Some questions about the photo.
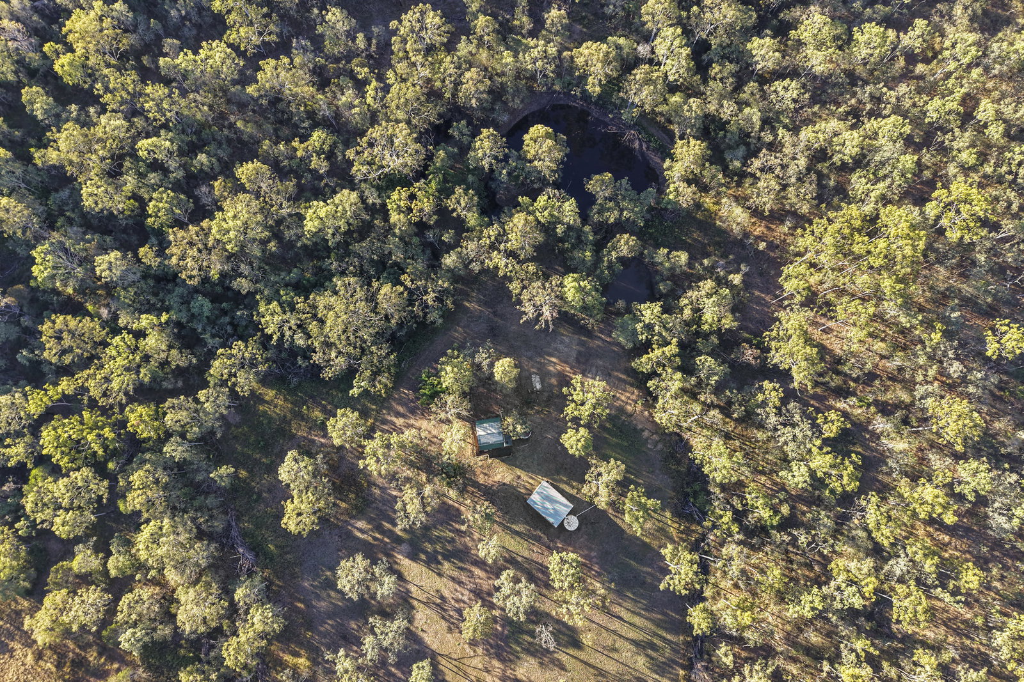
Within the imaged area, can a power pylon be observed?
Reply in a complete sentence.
No, the picture doesn't show any power pylon.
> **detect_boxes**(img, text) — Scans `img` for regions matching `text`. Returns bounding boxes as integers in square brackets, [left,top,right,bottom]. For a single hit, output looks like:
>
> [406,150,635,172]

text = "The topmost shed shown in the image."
[472,413,513,464]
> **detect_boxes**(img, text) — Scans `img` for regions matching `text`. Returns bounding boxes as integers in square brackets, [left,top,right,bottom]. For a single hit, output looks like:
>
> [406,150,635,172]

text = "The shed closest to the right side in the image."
[526,481,574,528]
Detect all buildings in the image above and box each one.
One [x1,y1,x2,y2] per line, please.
[526,481,574,528]
[472,413,513,464]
